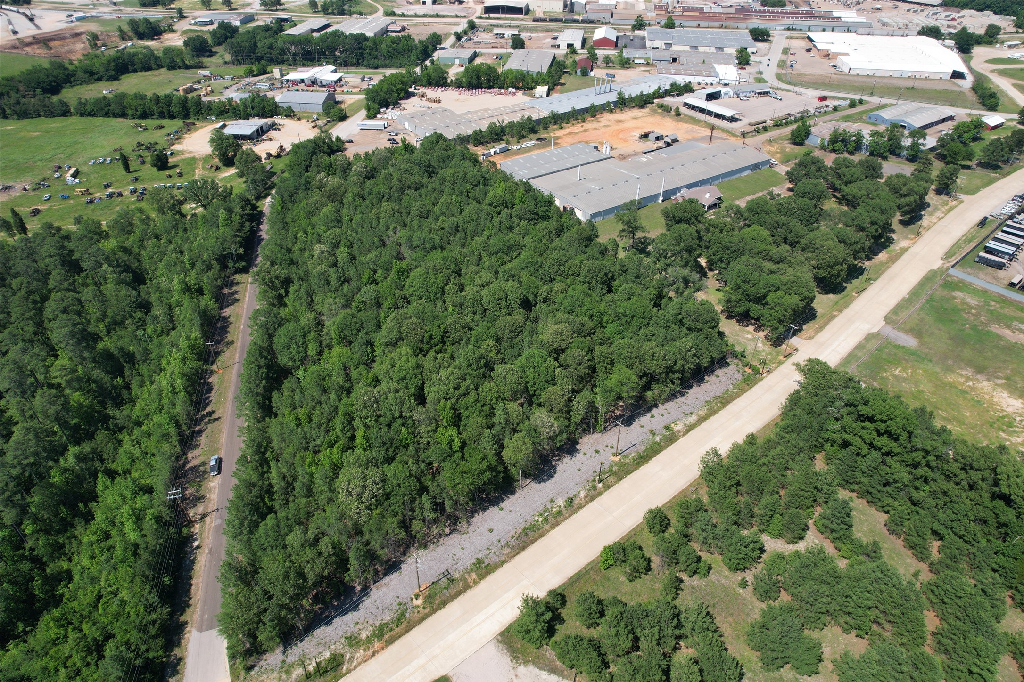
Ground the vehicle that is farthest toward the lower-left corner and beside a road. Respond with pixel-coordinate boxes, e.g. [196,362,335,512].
[207,453,220,475]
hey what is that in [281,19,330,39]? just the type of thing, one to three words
shed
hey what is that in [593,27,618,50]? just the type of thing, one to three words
barn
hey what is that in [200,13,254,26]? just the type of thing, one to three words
building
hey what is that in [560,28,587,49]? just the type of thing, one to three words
shed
